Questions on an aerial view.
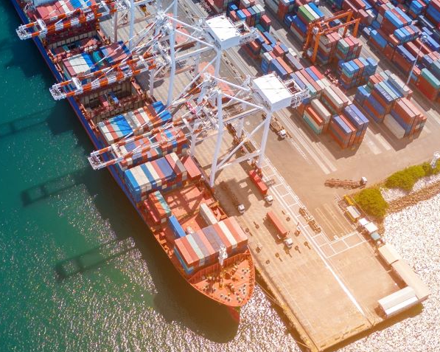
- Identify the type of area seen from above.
port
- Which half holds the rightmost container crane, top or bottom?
top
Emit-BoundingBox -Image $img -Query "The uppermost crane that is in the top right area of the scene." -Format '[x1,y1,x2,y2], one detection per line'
[302,8,363,66]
